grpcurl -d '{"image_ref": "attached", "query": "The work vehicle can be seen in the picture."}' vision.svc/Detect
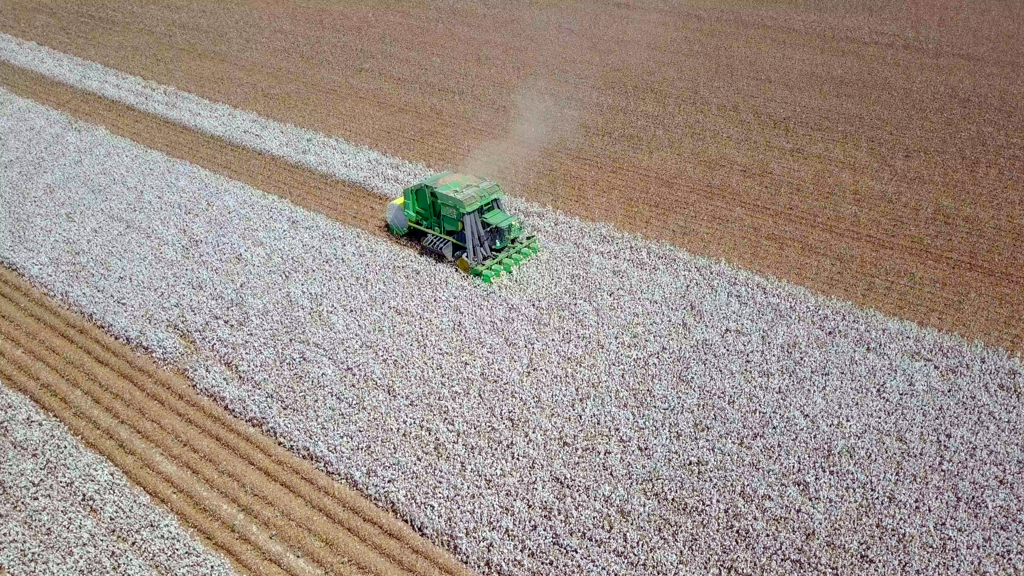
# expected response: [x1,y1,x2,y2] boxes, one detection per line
[388,165,542,293]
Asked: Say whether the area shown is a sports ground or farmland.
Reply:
farmland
